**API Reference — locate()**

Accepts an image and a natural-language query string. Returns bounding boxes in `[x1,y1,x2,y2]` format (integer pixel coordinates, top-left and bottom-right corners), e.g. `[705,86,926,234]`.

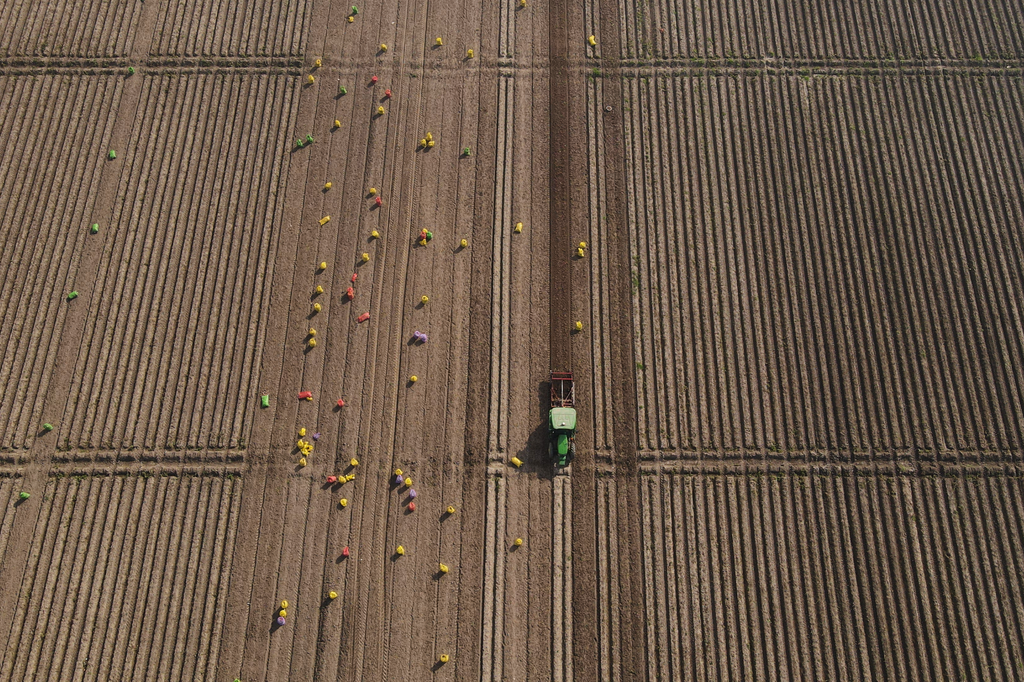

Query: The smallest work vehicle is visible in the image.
[551,369,575,408]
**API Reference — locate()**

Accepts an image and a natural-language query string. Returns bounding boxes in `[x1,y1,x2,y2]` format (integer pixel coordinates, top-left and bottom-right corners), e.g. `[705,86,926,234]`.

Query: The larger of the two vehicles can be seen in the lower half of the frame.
[549,407,580,466]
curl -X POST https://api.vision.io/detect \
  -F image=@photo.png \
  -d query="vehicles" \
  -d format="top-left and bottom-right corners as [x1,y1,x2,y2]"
[549,407,580,466]
[551,369,575,408]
